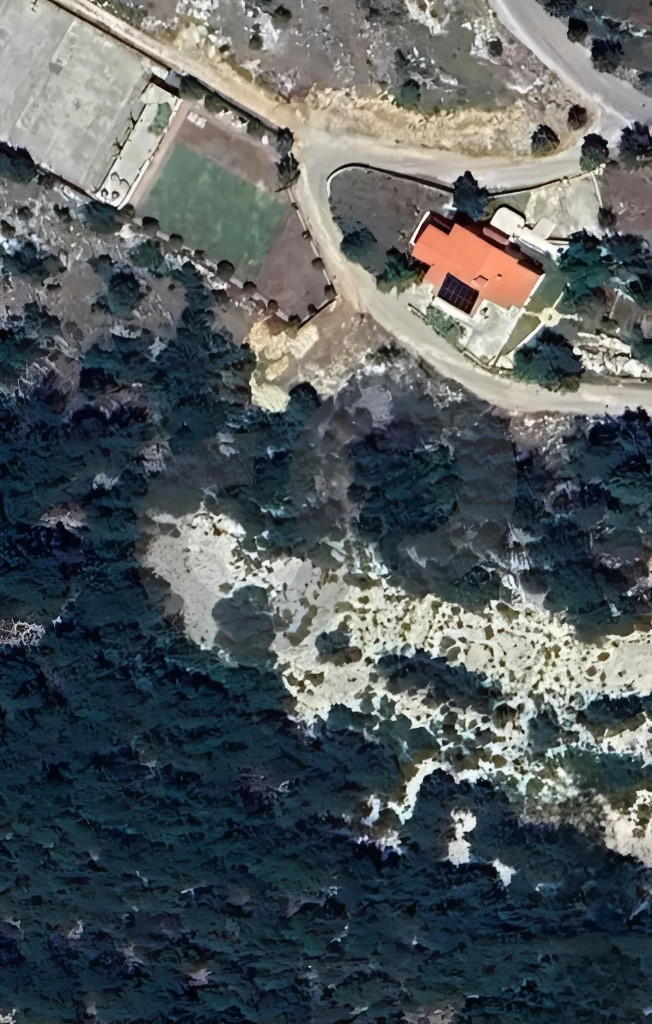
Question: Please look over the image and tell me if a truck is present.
No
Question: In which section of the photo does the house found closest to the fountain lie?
top right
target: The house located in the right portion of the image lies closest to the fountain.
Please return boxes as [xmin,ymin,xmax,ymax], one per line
[412,211,544,324]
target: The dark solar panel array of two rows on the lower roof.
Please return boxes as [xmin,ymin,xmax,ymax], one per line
[439,271,480,312]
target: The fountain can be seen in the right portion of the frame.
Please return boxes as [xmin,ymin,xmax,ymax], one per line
[540,306,561,327]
